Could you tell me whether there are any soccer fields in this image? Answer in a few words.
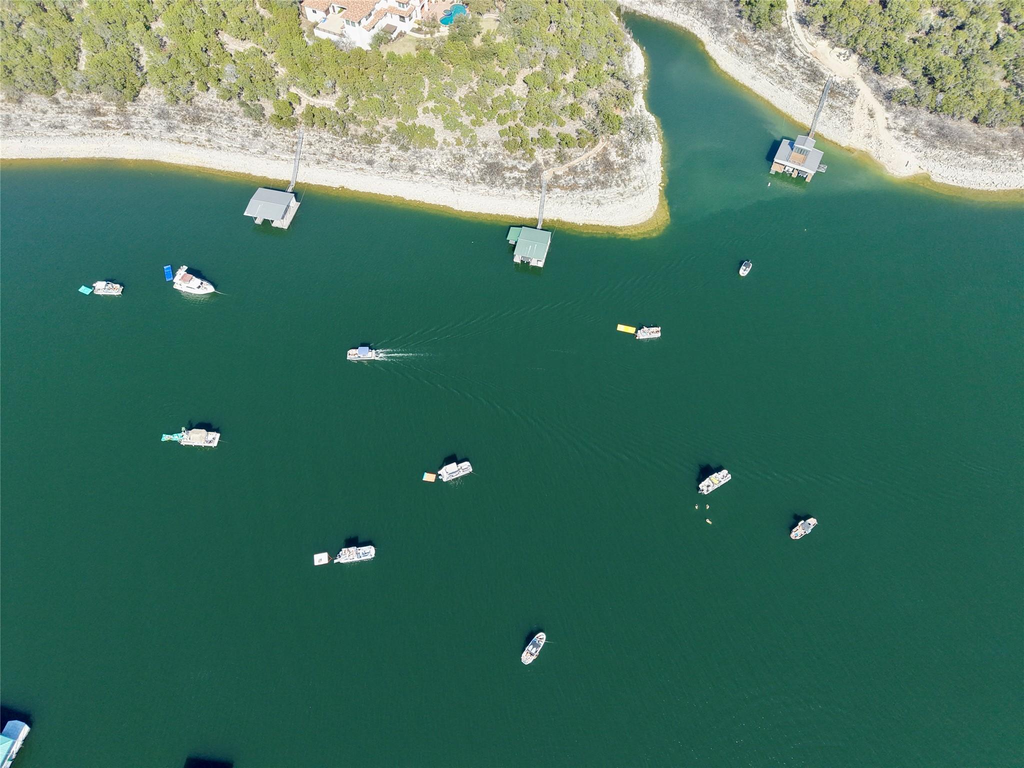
No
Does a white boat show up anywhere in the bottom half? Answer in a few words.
Yes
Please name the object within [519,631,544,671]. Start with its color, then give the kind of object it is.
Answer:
white boat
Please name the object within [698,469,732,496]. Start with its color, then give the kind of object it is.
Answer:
white boat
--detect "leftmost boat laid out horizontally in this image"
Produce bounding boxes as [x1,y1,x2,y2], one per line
[90,280,124,295]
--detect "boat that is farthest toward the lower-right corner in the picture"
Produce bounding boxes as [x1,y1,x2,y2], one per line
[786,518,817,542]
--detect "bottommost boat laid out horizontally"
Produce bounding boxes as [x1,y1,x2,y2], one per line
[335,544,376,562]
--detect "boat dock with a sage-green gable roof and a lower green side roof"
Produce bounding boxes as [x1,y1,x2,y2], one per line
[507,227,551,268]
